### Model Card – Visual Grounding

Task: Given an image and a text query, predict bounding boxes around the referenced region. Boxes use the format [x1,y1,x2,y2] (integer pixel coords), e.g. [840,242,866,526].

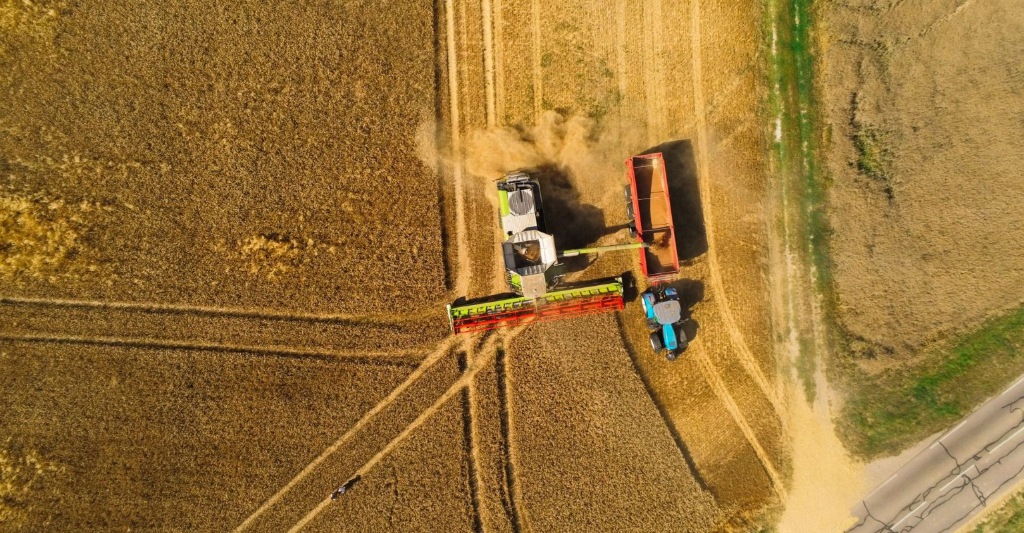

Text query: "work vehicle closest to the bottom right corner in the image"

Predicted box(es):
[638,282,689,359]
